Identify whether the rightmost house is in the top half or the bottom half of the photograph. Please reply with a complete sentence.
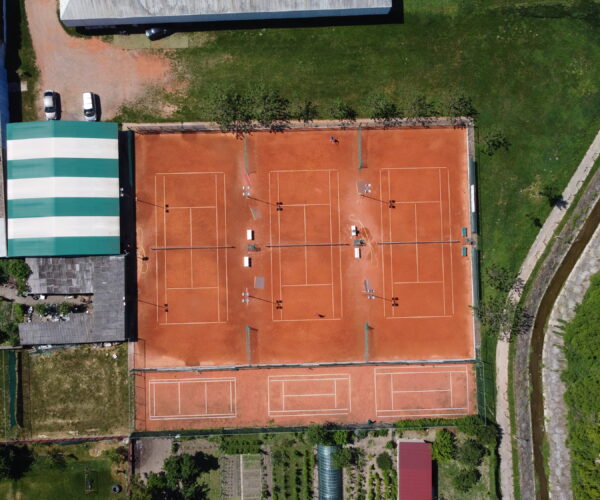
You can find the rightmost house in the bottom half.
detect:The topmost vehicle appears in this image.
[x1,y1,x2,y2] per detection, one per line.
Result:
[145,25,171,42]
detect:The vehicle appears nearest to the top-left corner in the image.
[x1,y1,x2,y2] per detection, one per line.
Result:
[42,91,56,120]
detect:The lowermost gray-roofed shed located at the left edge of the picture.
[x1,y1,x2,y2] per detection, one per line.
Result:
[19,254,128,346]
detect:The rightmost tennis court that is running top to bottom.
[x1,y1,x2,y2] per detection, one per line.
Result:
[359,127,475,362]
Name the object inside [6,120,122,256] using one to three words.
building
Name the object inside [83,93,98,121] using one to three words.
car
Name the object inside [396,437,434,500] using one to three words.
house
